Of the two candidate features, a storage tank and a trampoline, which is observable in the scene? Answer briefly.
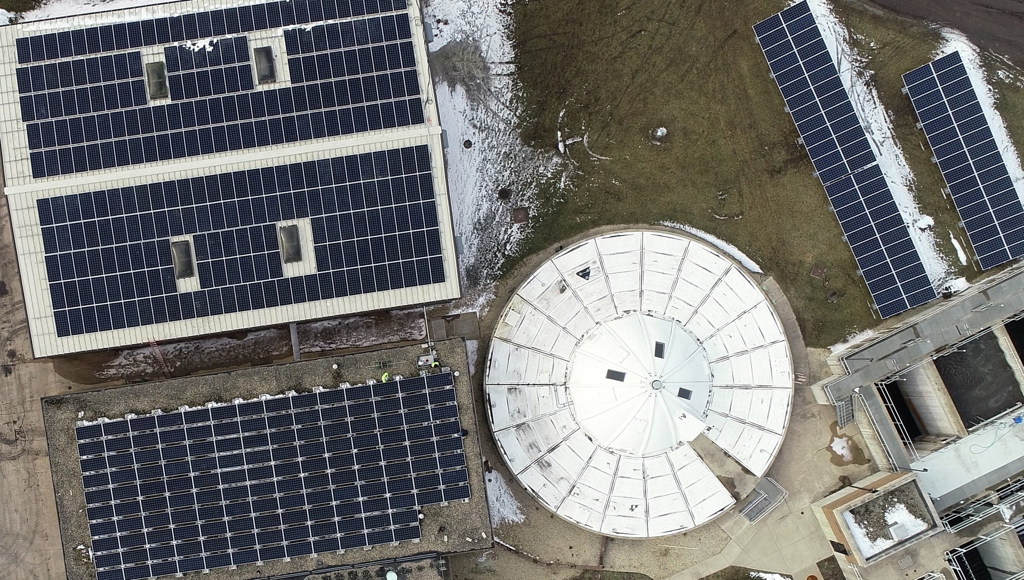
storage tank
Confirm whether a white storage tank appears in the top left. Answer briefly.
No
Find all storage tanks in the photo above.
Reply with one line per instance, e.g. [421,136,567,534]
[483,229,793,539]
